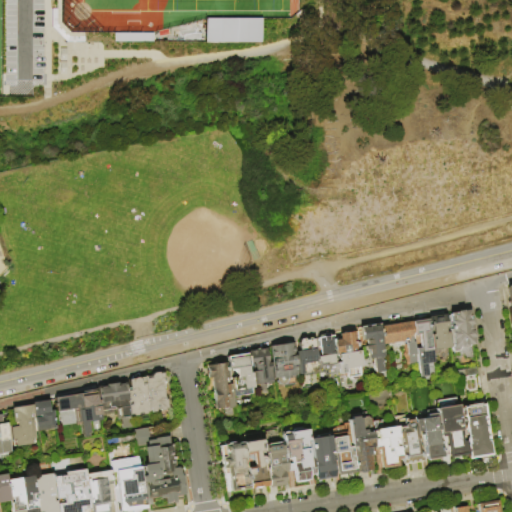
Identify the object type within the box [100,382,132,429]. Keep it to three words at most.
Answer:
house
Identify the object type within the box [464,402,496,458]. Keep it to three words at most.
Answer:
house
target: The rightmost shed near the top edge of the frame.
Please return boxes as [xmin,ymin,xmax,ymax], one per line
[206,16,264,44]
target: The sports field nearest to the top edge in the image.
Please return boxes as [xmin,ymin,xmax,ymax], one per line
[63,0,300,30]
